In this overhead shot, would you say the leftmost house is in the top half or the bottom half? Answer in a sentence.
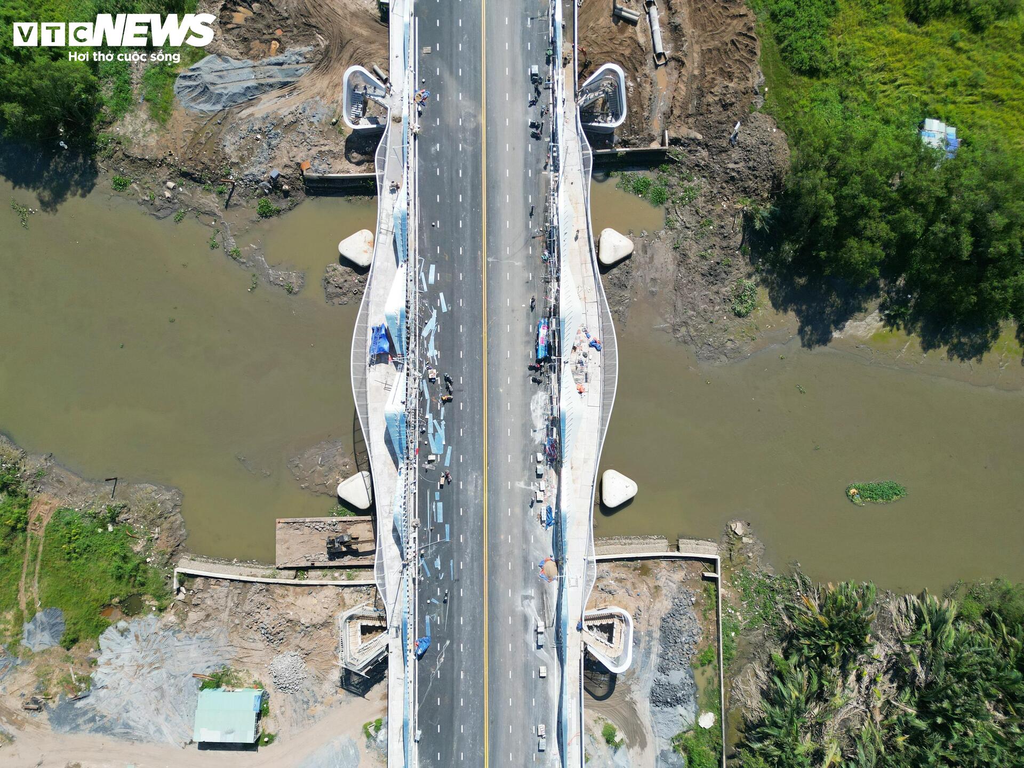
Seen from above, the leftmost house lies in the bottom half of the view.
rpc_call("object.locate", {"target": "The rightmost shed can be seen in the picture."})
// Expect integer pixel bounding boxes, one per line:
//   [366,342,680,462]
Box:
[921,118,961,156]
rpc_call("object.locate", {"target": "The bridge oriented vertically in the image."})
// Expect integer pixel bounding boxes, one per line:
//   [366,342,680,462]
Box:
[350,0,619,768]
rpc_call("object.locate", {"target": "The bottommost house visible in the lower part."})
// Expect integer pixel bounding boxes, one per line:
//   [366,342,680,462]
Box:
[194,685,265,742]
